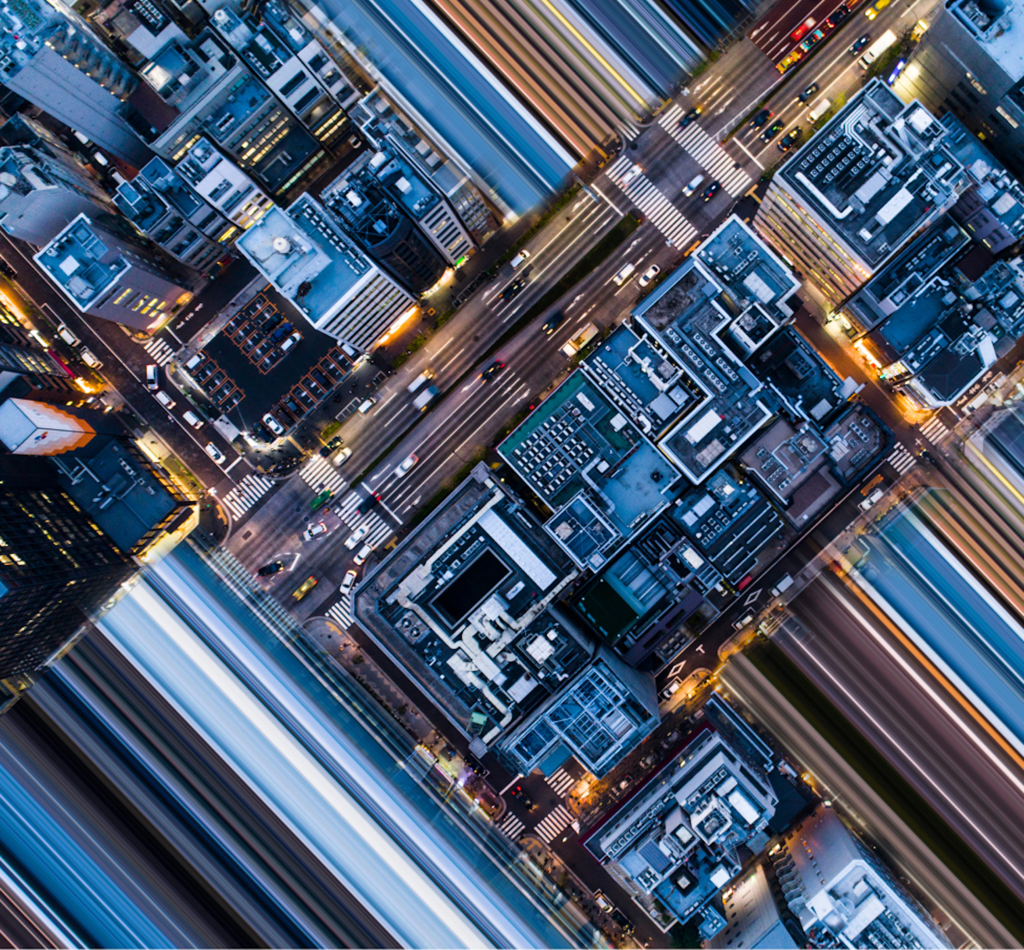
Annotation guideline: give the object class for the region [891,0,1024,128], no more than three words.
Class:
building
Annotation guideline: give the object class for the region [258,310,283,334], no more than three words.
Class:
car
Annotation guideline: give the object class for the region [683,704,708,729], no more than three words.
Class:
vehicle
